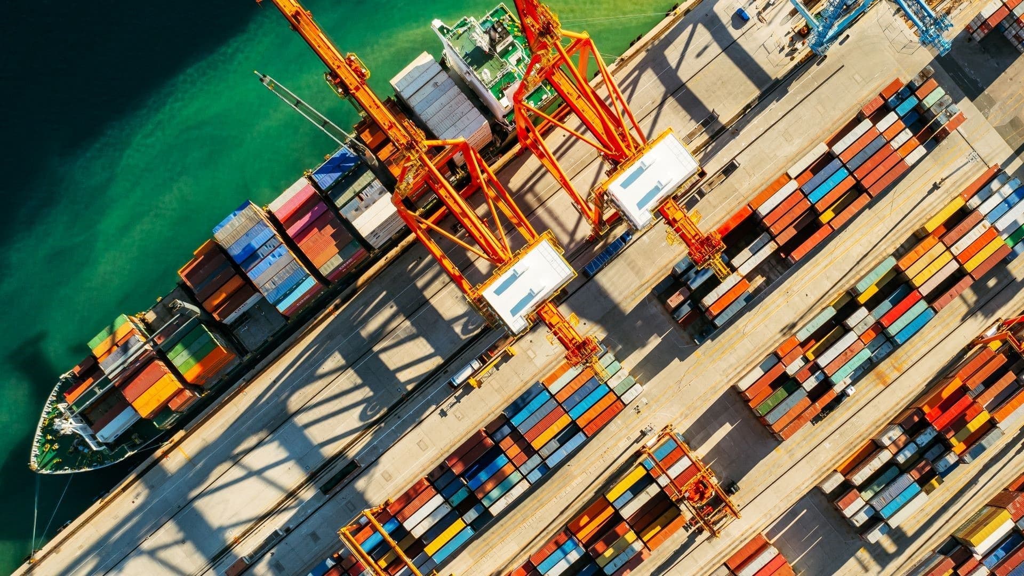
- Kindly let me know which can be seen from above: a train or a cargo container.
cargo container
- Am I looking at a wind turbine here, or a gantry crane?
gantry crane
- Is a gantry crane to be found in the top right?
Yes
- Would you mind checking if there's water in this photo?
Yes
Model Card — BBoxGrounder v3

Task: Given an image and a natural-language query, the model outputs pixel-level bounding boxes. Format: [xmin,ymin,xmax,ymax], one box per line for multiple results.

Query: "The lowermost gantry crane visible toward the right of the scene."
[634,420,746,539]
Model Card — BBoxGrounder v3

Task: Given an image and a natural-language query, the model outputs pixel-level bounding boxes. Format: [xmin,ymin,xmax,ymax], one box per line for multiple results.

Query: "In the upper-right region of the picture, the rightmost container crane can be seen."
[765,0,985,84]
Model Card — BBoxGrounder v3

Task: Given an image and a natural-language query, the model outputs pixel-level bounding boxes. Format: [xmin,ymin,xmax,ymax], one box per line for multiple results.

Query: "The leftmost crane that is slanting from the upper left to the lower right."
[253,70,389,177]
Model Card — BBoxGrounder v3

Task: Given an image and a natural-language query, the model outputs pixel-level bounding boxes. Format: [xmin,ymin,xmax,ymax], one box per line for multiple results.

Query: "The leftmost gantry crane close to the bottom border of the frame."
[338,501,442,576]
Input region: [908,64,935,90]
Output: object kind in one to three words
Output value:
shipping container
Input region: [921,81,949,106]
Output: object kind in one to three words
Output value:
shipping container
